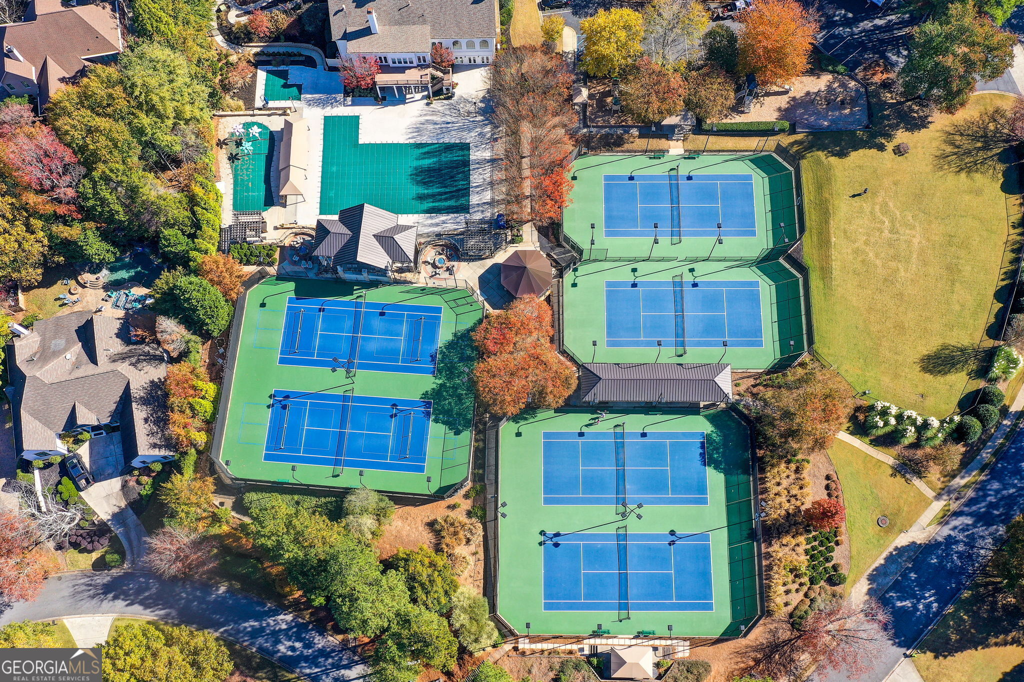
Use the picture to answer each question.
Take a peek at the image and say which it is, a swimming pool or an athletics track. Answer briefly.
swimming pool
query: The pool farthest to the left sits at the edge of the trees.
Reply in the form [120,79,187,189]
[105,251,161,291]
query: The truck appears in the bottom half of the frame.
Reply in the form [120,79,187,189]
[65,452,96,488]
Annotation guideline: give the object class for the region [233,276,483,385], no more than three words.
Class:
tennis court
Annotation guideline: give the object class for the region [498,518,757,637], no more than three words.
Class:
tennis court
